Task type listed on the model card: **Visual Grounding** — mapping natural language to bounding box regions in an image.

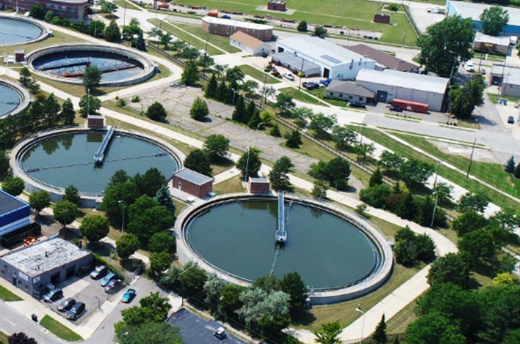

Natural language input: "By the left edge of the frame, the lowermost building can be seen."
[3,235,93,299]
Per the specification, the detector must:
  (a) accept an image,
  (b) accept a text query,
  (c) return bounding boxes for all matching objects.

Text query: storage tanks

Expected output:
[0,15,53,48]
[9,123,187,205]
[174,190,395,305]
[23,43,159,85]
[0,79,33,120]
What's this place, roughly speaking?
industrial area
